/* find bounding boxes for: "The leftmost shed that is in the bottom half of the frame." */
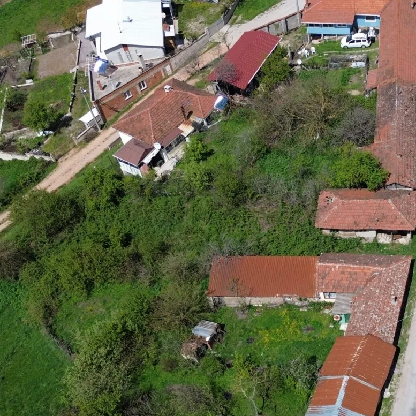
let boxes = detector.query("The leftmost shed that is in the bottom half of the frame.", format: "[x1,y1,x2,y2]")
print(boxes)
[193,320,226,349]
